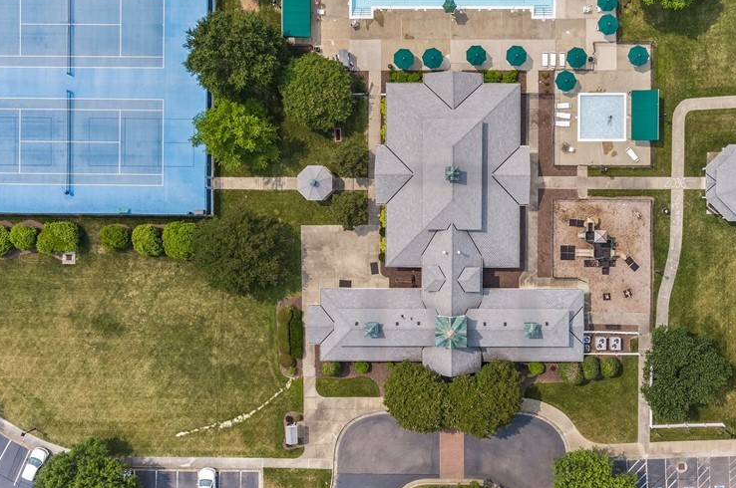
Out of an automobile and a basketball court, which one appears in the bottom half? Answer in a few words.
automobile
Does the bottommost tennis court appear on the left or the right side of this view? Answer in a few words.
left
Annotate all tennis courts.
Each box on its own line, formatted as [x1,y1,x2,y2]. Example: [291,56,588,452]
[0,89,195,193]
[0,0,164,77]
